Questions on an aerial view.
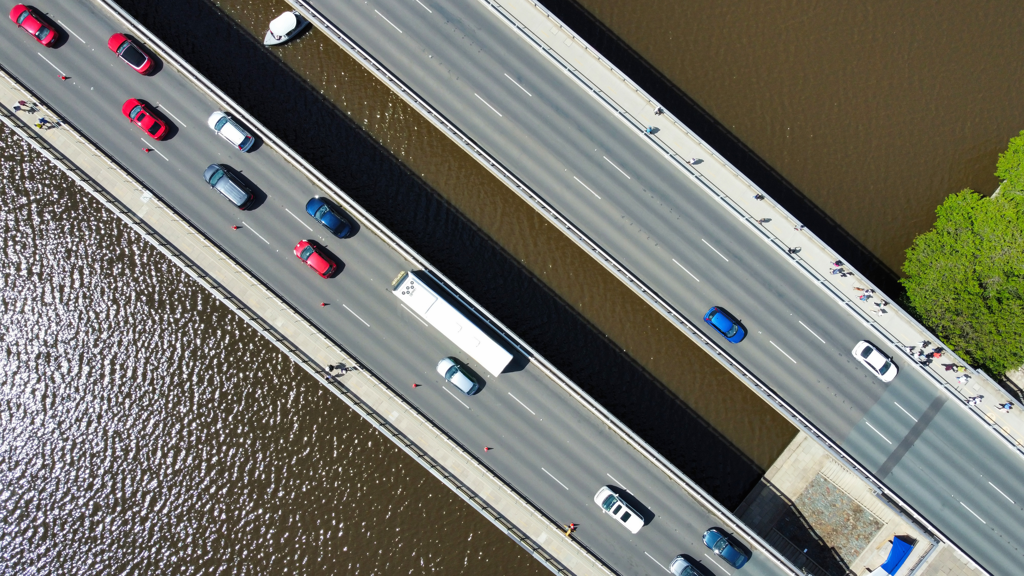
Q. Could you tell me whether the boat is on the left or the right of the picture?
left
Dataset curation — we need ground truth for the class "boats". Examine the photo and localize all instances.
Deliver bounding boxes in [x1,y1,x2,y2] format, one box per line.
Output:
[265,12,313,51]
